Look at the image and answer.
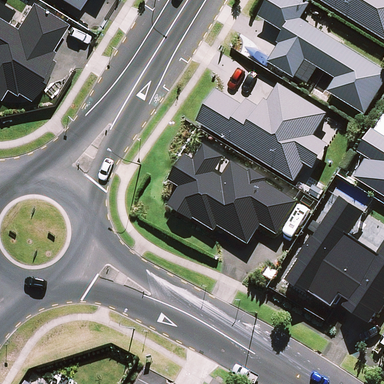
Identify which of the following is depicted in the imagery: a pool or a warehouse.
pool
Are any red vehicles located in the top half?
Yes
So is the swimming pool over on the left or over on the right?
right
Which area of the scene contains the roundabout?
left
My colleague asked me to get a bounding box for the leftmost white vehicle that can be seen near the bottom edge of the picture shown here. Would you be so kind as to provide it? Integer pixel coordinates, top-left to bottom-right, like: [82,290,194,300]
[232,363,260,384]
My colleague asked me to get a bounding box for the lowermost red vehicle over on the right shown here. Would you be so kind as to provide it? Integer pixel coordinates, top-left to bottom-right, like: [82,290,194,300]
[228,66,245,89]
